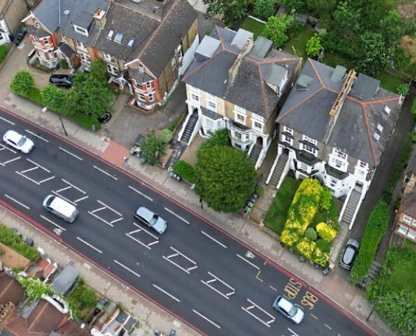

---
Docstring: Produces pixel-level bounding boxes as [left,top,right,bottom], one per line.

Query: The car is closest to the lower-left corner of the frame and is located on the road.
[43,196,80,223]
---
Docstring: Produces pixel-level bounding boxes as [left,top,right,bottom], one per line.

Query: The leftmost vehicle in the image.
[1,131,34,154]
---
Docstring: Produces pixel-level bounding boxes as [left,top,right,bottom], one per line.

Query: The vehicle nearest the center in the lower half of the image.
[134,206,168,234]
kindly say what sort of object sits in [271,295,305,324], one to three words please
car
